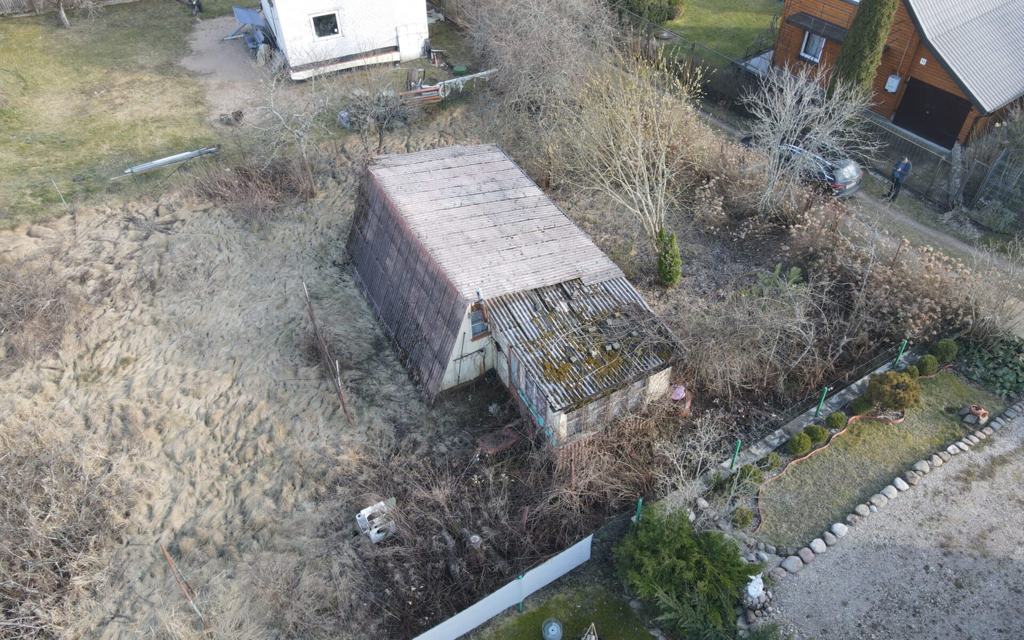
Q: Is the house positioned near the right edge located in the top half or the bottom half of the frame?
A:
top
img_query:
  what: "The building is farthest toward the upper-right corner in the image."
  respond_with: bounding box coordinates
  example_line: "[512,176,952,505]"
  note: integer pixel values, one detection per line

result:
[773,0,1024,149]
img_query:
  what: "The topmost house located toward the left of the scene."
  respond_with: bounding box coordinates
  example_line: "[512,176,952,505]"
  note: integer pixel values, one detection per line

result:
[255,0,431,80]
